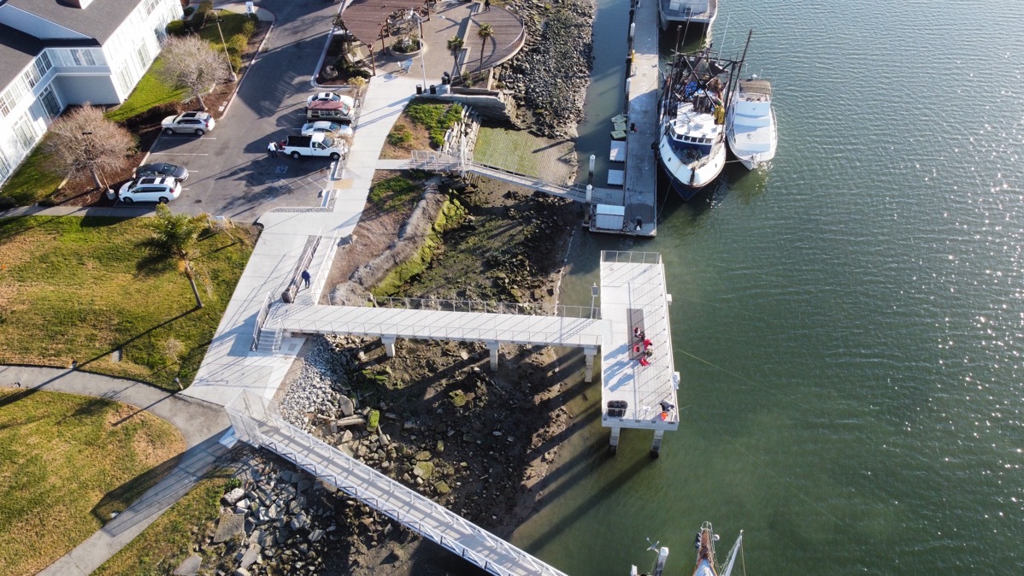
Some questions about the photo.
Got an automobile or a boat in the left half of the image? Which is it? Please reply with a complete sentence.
Visible in the left half of the image is an automobile.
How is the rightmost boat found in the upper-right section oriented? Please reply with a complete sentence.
The rightmost boat found in the upper-right section is oriented from top to bottom.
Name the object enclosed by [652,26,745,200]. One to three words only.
boat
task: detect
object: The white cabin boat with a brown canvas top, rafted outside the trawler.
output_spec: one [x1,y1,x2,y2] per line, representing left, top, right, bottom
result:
[723,59,777,176]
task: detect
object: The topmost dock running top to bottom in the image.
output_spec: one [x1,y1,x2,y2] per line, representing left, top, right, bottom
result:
[588,0,659,240]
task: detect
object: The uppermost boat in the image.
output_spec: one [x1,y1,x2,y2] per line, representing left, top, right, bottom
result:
[661,0,717,38]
